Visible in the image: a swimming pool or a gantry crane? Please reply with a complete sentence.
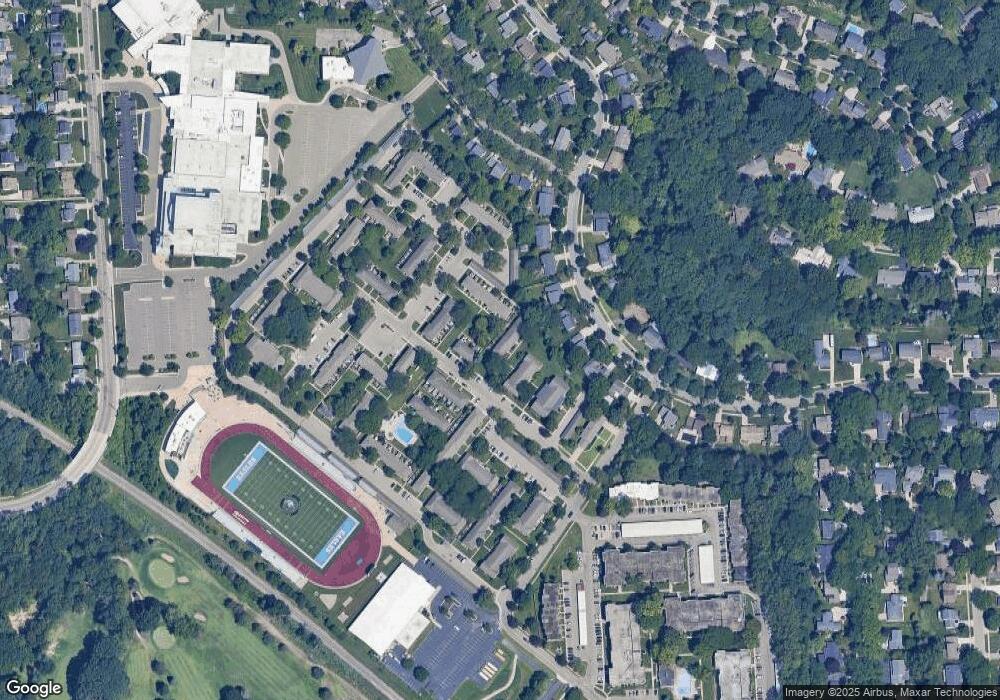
It is a swimming pool that can be seen here.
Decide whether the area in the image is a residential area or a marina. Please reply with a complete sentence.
It's a residential area.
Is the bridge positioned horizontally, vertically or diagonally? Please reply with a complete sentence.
From this overhead view, the bridge appears to run diagonally.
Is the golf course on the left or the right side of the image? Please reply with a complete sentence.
The golf course sits on the left side.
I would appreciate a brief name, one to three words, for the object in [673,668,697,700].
swimming pool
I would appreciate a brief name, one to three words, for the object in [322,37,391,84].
building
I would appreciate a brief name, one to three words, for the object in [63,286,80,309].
house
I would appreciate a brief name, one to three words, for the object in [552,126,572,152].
house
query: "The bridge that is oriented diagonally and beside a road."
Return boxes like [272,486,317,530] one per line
[55,424,111,486]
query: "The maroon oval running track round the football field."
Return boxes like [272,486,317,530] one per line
[189,423,383,588]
